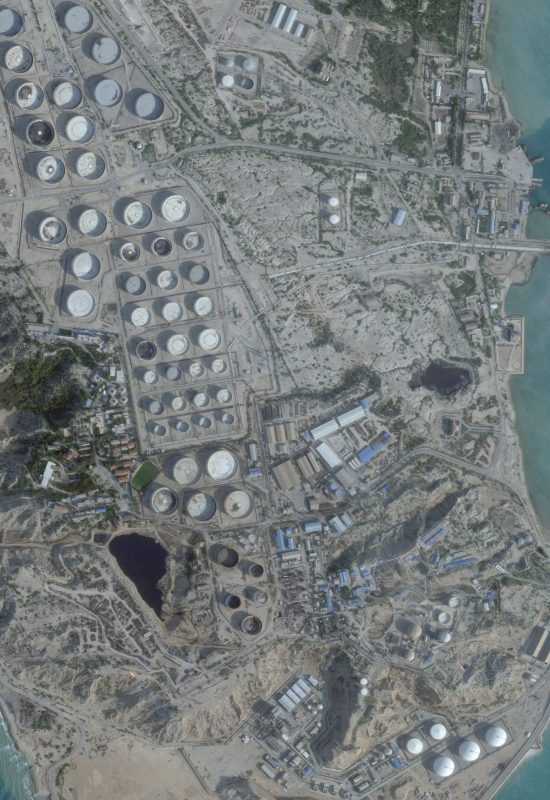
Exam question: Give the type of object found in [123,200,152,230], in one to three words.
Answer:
storage tank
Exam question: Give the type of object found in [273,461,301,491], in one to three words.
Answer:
building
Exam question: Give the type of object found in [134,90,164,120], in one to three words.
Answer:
storage tank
